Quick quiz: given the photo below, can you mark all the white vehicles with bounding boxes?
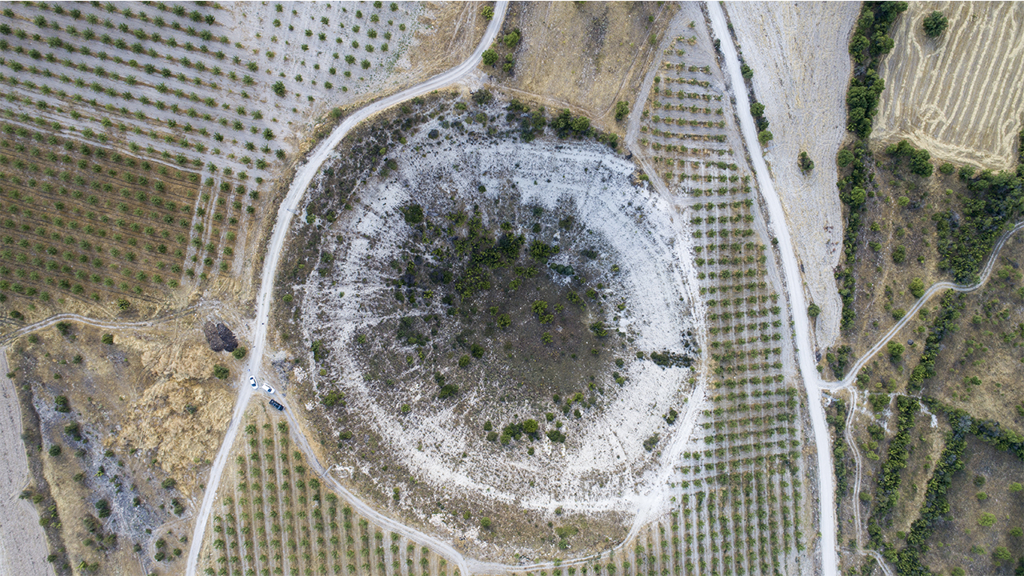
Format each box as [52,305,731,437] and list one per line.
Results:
[249,375,258,390]
[261,383,276,394]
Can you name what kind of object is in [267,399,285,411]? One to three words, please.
vehicle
